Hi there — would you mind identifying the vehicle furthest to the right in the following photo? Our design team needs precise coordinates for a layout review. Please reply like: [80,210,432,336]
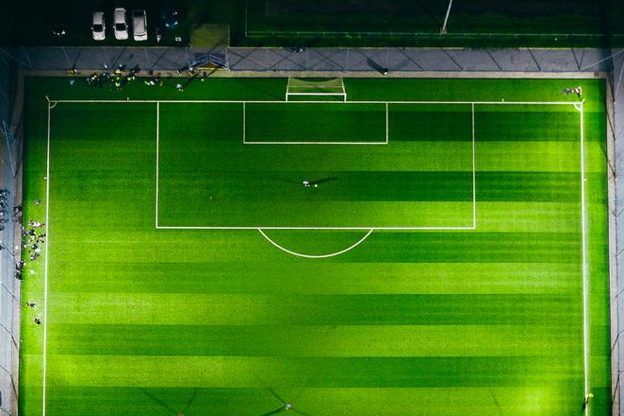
[162,0,179,35]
